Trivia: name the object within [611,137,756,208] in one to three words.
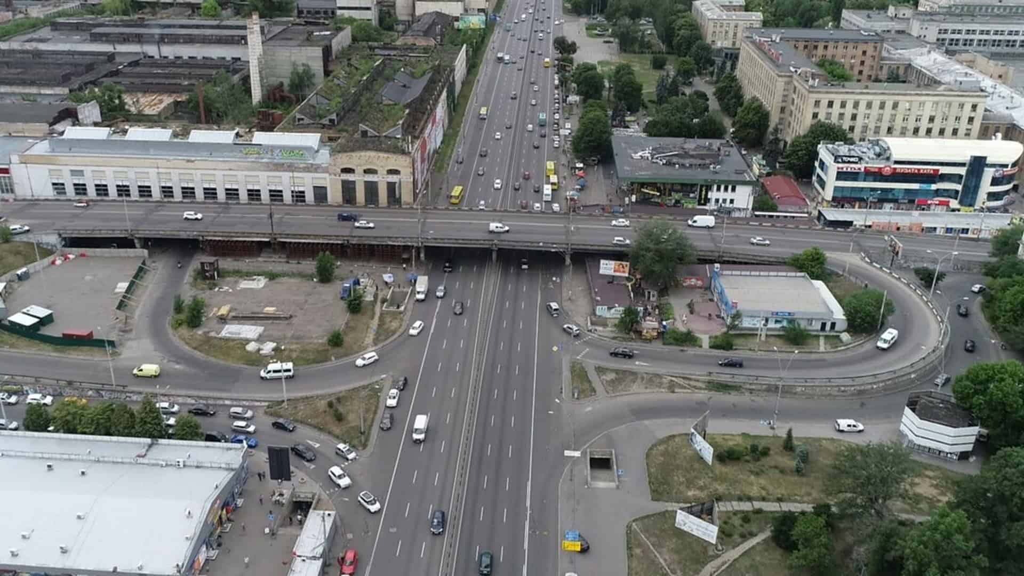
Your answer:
building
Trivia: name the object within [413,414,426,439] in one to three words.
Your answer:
vehicle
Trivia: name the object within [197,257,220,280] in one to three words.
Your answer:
shed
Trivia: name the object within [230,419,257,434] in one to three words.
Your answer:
car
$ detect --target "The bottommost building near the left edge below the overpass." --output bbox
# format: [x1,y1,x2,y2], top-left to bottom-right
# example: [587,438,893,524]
[0,431,249,576]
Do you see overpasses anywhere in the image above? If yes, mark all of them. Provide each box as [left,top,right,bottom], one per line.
[0,198,1000,276]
